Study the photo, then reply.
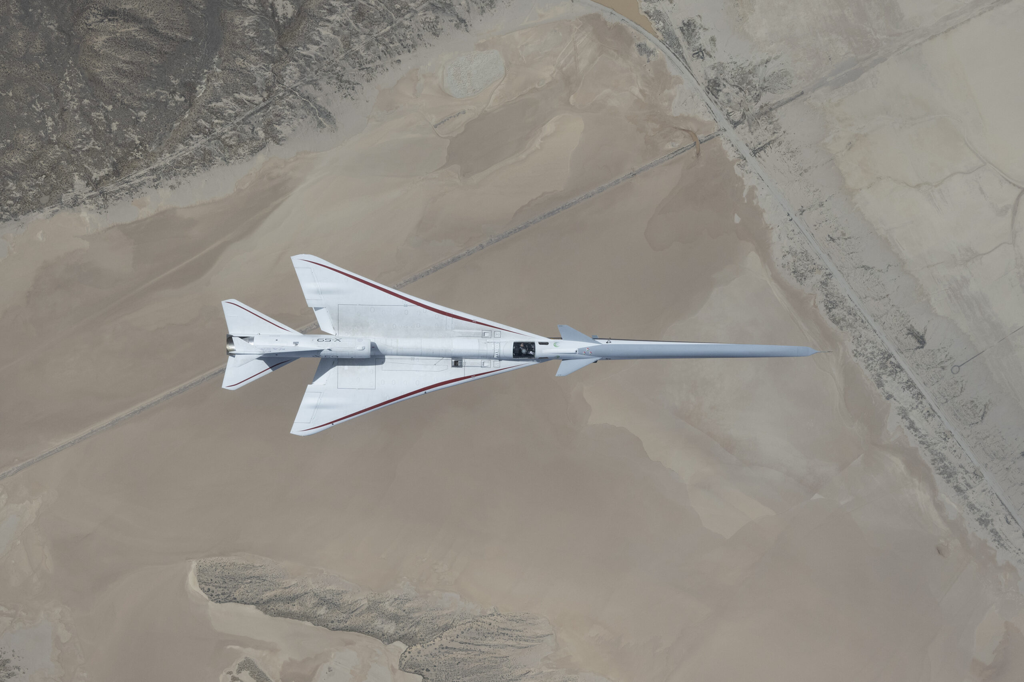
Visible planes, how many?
1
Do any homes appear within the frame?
No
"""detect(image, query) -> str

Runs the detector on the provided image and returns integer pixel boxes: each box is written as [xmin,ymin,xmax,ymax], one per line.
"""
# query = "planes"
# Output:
[222,254,833,436]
